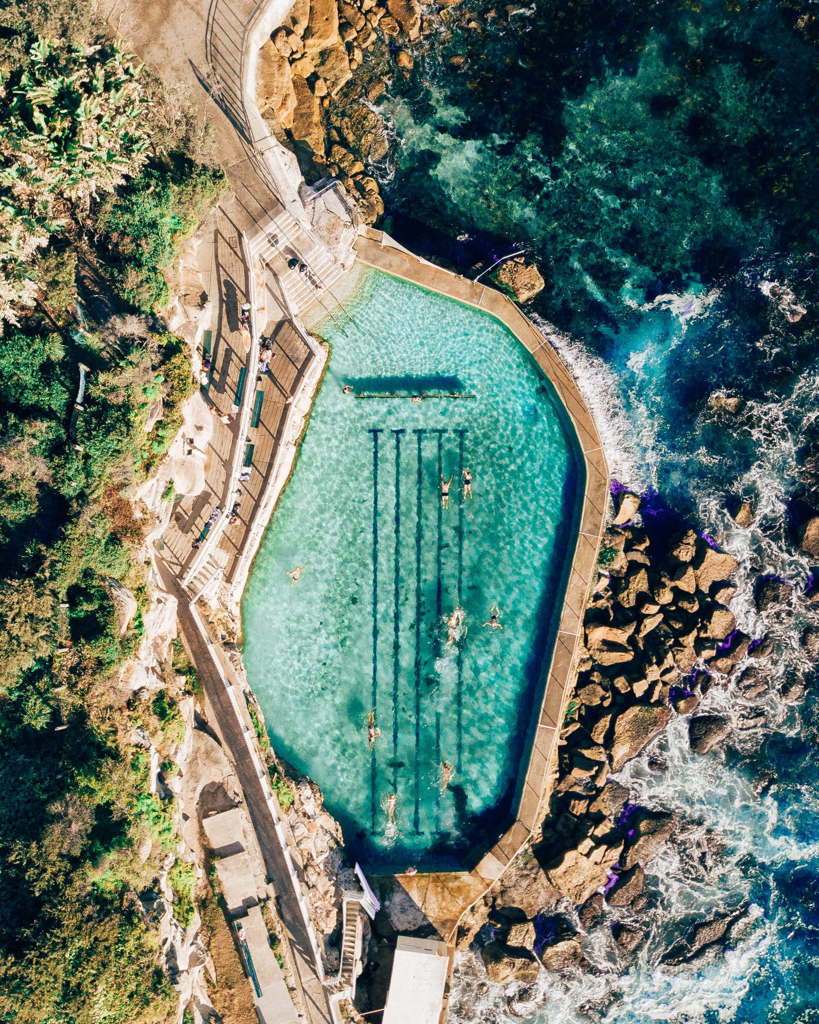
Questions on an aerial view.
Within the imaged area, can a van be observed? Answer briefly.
No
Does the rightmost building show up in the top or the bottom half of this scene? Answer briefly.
bottom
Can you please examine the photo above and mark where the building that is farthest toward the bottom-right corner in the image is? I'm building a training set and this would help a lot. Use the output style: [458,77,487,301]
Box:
[382,926,449,1024]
